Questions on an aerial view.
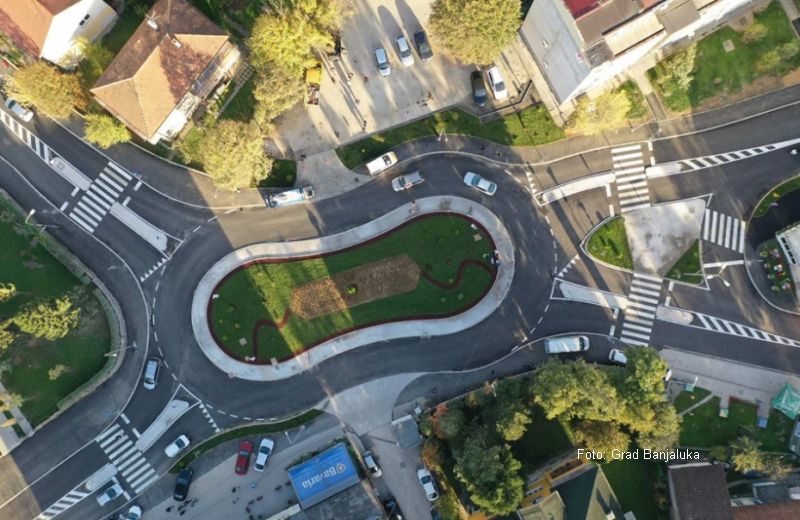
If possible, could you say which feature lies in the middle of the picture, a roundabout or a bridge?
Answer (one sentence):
What appears in the middle of the picture is a roundabout.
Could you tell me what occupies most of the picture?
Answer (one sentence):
The scene is dominated by paved ground.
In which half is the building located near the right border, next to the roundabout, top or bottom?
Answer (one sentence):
The building located near the right border, next to the roundabout is in the top half of the image.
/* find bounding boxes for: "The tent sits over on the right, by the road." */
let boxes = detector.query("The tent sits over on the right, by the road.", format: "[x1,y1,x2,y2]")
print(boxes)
[759,377,800,421]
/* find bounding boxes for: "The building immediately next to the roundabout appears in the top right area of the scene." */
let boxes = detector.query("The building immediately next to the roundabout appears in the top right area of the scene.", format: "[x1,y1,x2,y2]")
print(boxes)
[517,0,769,104]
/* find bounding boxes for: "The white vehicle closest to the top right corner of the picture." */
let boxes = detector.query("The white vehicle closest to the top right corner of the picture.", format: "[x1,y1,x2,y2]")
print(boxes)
[486,65,507,102]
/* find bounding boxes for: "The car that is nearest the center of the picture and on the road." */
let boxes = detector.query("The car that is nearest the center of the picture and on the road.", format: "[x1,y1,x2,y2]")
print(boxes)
[390,170,426,192]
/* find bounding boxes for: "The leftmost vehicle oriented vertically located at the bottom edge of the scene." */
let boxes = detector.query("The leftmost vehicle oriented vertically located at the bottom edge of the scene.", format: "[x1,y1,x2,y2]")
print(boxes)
[174,465,195,502]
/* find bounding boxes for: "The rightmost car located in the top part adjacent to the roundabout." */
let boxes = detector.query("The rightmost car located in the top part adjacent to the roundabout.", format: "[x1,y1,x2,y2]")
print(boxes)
[462,172,498,196]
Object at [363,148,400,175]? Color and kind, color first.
white vehicle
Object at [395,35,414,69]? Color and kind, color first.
white car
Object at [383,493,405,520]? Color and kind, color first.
black car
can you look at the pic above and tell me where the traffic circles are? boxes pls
[191,194,516,382]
